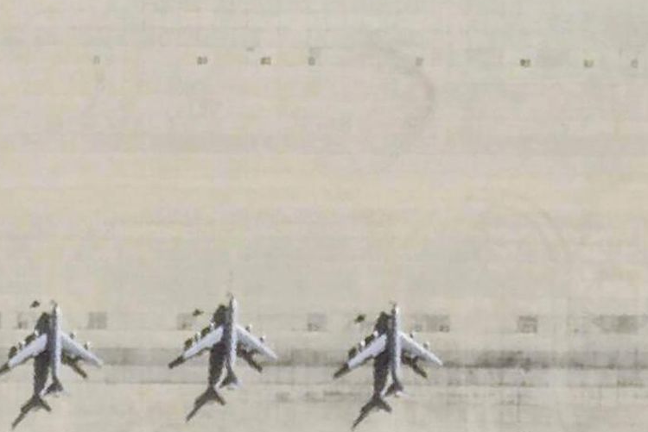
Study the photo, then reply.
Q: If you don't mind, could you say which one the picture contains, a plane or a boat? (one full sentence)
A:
Of the two, only a plane appears.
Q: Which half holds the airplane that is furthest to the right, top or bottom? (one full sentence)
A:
Seen from above, the airplane that is furthest to the right lies in the bottom half of the view.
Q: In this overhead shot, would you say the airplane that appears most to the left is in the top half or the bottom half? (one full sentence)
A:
It is in the bottom half that the airplane that appears most to the left appears.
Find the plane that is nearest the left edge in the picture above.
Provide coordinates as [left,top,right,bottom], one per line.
[10,306,104,396]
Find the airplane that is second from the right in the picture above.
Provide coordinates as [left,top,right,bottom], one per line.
[186,297,280,391]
